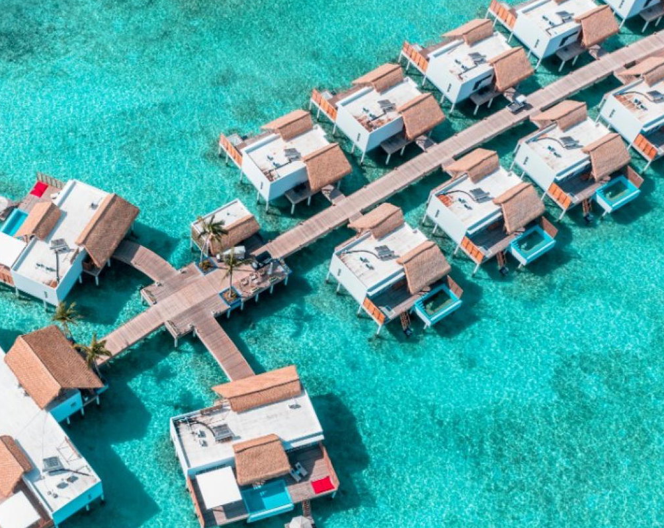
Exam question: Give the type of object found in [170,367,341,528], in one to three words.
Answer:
house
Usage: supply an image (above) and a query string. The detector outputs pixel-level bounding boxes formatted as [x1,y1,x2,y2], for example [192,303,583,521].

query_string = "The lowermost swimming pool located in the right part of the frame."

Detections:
[414,283,464,327]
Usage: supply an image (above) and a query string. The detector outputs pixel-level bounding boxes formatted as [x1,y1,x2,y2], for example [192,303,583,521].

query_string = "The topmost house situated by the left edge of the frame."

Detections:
[0,171,138,310]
